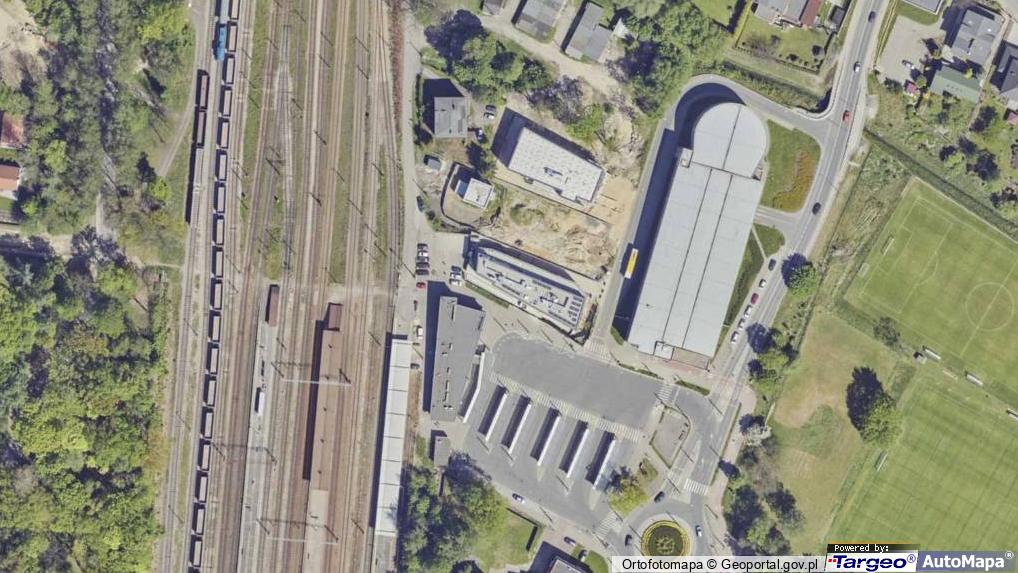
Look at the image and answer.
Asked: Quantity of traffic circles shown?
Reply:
one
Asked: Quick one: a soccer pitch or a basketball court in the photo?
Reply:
soccer pitch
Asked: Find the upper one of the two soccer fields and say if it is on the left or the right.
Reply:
right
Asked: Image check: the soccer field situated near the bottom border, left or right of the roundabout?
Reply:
to its right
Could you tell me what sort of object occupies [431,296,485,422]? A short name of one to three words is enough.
building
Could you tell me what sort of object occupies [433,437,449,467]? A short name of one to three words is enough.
building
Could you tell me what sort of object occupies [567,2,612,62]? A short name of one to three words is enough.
shed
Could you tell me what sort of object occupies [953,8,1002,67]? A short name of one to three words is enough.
house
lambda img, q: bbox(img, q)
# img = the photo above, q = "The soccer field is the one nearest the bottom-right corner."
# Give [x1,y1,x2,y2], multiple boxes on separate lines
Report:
[814,364,1018,573]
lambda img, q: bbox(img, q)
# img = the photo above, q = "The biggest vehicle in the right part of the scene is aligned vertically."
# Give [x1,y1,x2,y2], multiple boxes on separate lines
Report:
[624,248,638,279]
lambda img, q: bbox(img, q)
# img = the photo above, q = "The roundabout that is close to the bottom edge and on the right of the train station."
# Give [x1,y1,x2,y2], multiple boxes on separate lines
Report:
[621,497,713,571]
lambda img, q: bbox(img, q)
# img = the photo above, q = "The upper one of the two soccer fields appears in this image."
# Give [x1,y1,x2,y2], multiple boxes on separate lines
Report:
[842,177,1018,420]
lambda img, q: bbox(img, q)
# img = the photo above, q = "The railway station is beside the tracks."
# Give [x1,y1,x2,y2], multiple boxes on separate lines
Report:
[238,286,411,573]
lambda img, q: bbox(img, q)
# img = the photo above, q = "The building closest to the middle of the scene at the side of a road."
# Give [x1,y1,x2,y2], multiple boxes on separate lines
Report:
[466,243,586,339]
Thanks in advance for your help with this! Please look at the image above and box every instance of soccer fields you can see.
[814,364,1018,573]
[842,177,1018,420]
